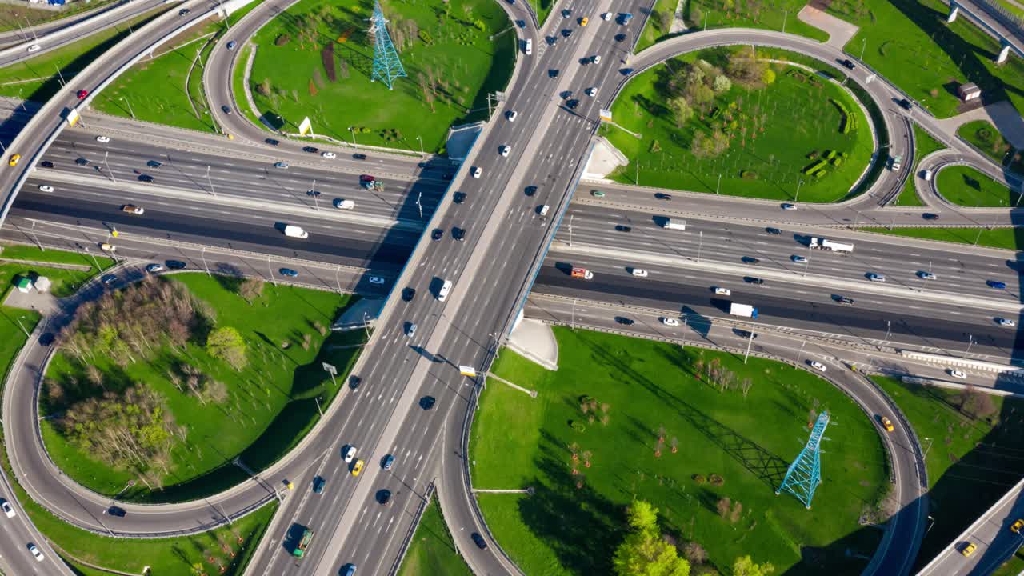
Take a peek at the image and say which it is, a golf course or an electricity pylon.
electricity pylon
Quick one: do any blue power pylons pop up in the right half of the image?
Yes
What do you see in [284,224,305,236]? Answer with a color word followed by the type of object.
white vehicle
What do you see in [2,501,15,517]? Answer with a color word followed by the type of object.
white vehicle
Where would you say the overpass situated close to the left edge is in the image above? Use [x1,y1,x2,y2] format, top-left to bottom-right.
[0,0,251,227]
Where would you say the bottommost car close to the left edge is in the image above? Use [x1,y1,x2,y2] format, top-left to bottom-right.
[30,544,43,560]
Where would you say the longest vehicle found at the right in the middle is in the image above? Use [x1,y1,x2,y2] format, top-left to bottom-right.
[806,234,857,252]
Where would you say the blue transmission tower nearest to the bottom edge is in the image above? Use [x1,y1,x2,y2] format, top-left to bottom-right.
[775,408,831,509]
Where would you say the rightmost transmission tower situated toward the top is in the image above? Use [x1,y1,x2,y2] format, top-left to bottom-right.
[370,0,408,89]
